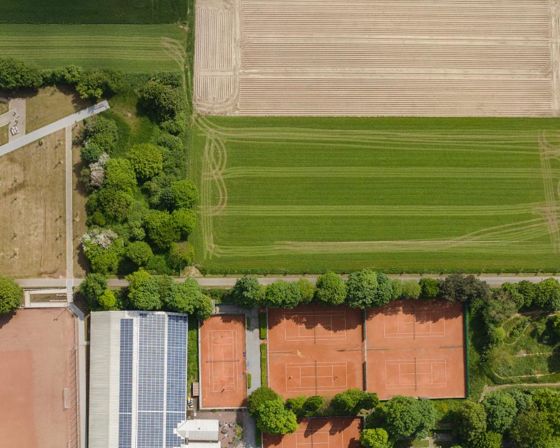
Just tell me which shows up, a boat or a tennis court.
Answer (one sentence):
There is a tennis court in the scene.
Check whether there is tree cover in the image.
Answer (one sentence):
Yes, there's tree cover in this view.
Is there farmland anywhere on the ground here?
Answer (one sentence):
Yes, farmland shows up in the scene.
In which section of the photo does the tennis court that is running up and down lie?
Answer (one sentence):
The tennis court that is running up and down is in the bottom part of the image.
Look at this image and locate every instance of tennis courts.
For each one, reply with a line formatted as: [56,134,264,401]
[267,306,364,355]
[367,301,467,350]
[269,354,366,399]
[262,415,364,448]
[200,314,247,408]
[367,348,468,400]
